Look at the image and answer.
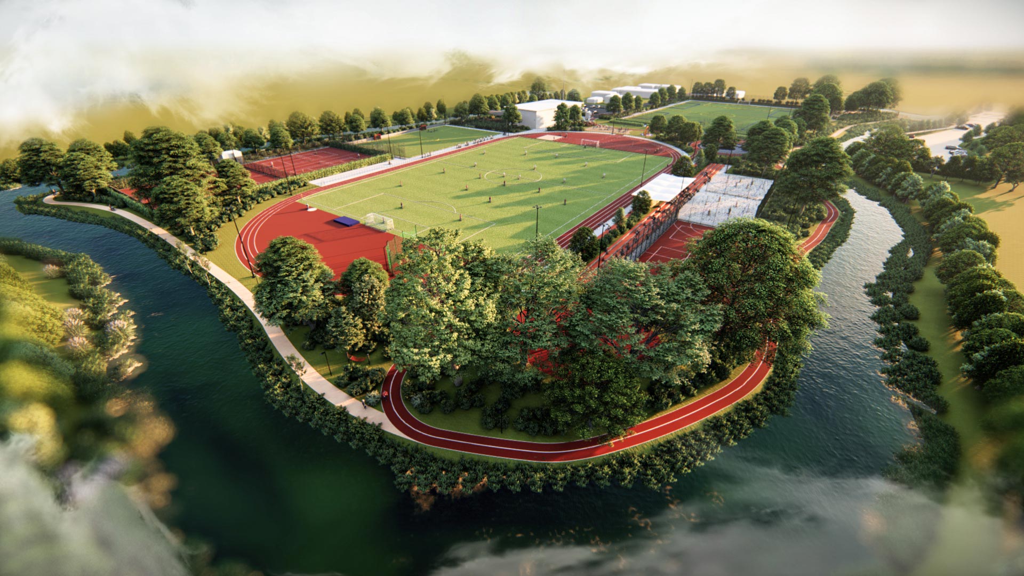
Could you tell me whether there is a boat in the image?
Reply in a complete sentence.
No, I find no boat anywhere in the image.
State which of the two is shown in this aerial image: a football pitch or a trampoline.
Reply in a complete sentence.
The image shows a football pitch.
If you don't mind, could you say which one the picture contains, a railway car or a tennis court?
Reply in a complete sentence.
It is a tennis court that can be seen here.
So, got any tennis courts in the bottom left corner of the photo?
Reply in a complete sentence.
No, there is no tennis court in the bottom left corner of the photo.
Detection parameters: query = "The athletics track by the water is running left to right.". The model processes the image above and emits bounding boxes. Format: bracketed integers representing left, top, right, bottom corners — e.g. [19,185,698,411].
[228,131,684,298]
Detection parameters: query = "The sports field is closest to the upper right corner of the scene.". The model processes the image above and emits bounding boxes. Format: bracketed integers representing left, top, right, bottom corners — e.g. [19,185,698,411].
[628,101,794,141]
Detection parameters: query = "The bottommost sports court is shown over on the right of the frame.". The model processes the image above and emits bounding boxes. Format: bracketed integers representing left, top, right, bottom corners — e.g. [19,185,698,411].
[616,221,748,297]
